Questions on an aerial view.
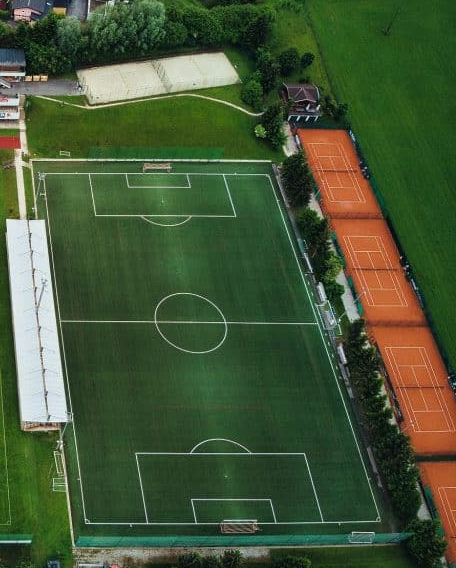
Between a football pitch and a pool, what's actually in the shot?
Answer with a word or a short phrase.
football pitch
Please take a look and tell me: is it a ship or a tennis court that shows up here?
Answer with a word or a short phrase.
tennis court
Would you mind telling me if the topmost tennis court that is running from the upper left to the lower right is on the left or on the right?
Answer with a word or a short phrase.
right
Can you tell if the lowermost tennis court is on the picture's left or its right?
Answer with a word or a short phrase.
right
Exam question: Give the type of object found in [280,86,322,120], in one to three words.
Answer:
building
